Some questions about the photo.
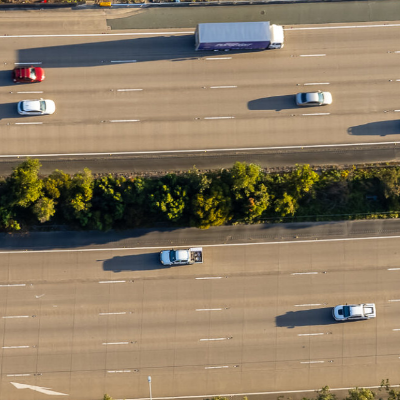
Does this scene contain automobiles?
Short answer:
Yes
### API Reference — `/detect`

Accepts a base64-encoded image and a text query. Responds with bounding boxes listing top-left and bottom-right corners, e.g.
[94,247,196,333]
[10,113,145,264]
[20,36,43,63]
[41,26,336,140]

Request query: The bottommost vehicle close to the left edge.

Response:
[18,99,55,116]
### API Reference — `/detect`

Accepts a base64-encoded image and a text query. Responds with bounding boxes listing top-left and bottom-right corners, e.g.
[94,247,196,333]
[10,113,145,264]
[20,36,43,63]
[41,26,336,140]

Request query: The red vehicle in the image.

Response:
[12,66,45,83]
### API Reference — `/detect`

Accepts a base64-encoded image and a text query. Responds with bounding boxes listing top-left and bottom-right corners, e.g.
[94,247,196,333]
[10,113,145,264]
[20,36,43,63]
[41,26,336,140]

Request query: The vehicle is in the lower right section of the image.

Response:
[332,304,377,321]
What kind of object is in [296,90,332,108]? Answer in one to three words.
car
